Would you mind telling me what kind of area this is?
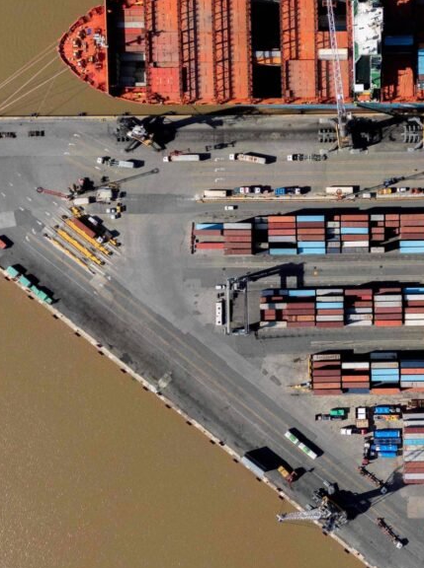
port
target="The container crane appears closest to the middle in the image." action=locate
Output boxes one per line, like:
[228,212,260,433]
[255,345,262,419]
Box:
[224,278,259,337]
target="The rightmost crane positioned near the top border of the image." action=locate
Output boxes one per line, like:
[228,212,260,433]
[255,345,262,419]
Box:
[322,0,362,156]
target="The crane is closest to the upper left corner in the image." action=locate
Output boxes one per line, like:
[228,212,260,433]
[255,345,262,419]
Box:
[116,111,163,152]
